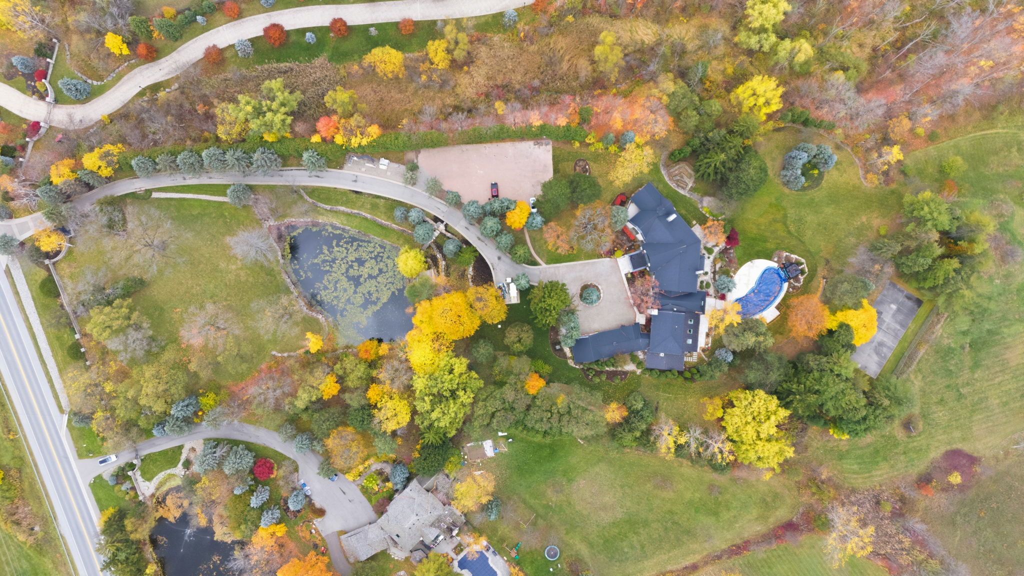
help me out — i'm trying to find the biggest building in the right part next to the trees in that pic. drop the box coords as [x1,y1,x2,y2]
[575,182,706,371]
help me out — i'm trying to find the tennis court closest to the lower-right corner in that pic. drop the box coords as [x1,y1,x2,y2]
[847,281,923,378]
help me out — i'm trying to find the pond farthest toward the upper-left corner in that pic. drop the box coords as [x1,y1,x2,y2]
[288,223,413,343]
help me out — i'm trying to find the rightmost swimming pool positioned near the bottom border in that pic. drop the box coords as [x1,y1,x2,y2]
[453,542,510,576]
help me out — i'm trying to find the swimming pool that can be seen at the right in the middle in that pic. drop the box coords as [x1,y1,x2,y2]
[723,259,789,323]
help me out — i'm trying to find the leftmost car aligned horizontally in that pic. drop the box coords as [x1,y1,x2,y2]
[95,453,117,466]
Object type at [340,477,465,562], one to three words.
house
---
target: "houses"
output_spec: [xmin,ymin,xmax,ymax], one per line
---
[340,477,465,562]
[575,182,706,371]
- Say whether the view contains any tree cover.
Yes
